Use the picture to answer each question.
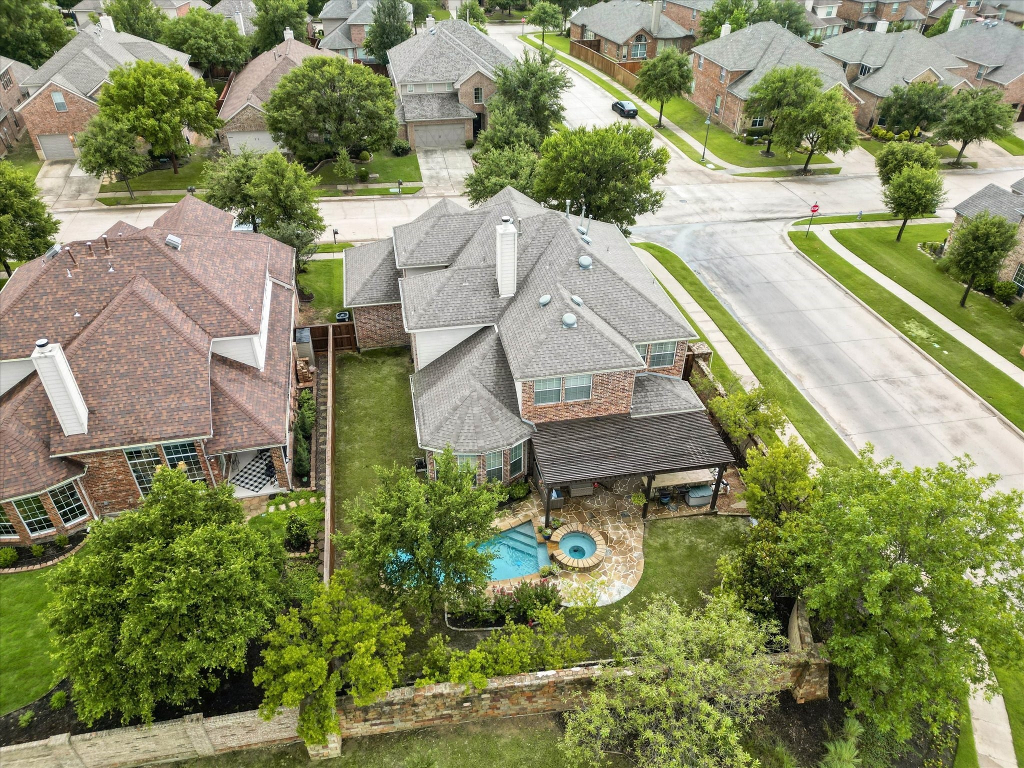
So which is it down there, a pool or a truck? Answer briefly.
pool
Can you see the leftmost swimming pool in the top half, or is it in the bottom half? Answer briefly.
bottom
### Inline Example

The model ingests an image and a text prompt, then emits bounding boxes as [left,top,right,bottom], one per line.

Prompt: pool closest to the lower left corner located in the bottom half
[376,511,552,592]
